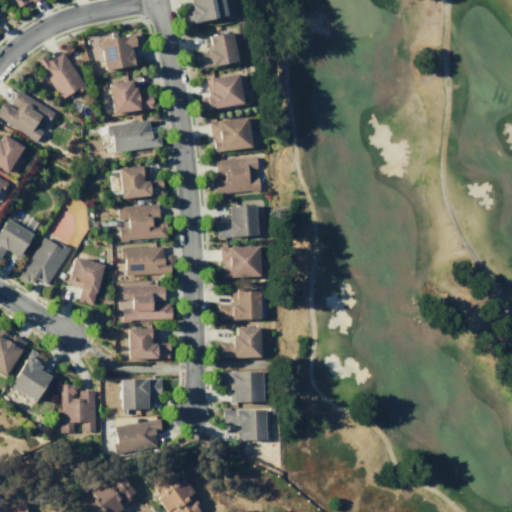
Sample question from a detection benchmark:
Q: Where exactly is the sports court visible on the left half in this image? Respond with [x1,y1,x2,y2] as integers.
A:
[50,200,88,249]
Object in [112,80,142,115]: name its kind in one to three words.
house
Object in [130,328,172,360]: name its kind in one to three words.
house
